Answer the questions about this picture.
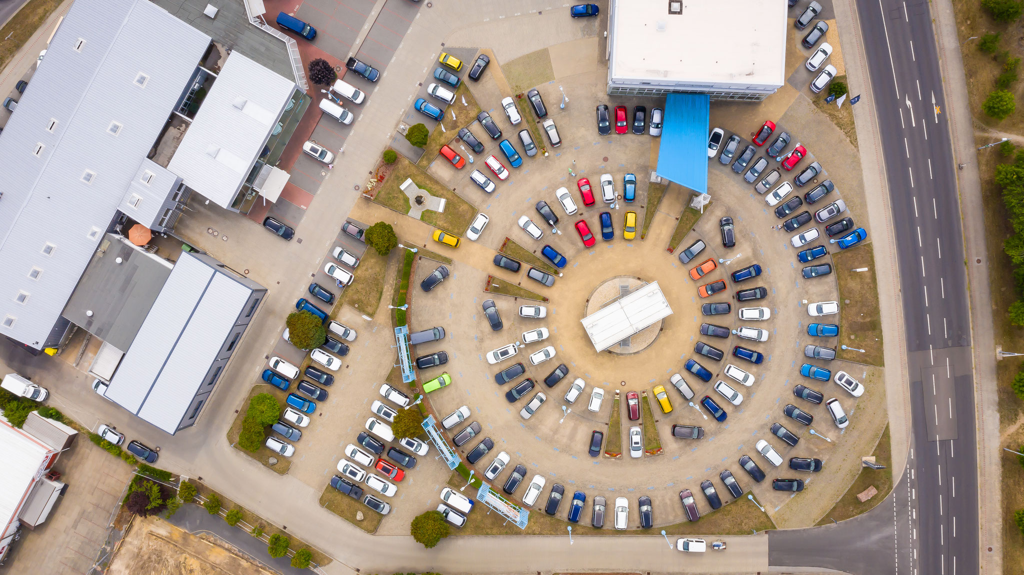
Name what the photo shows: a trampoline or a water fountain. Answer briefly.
water fountain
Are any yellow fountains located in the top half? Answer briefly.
No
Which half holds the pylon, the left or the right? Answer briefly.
right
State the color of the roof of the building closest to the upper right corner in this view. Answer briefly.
white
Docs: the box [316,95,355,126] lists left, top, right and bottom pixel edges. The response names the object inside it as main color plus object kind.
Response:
white vehicle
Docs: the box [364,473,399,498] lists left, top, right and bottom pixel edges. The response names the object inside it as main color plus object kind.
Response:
white car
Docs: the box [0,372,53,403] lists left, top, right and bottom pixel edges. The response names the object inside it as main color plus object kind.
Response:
white truck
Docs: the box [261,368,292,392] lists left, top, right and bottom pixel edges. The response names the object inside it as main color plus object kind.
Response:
blue car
